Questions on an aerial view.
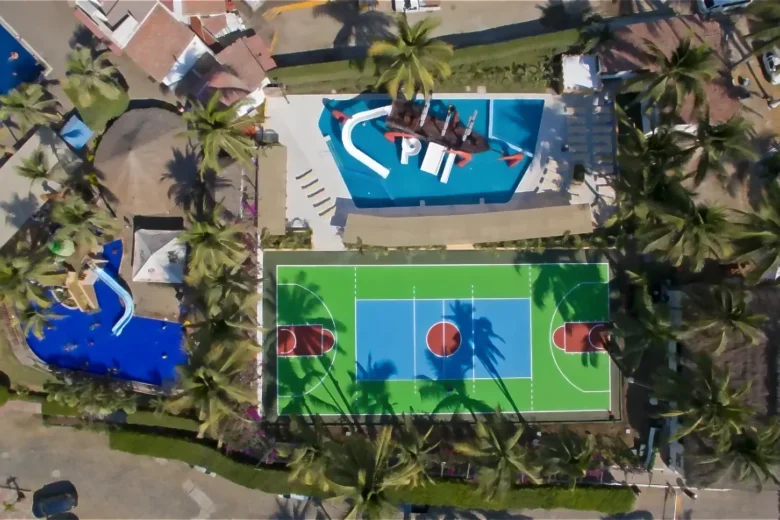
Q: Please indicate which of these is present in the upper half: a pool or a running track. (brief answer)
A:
pool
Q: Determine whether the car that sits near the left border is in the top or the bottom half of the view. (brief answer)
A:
bottom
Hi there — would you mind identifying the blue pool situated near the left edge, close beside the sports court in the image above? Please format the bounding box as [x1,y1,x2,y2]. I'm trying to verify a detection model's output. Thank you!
[21,235,189,388]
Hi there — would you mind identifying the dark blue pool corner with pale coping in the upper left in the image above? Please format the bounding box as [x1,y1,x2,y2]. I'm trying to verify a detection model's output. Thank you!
[0,24,53,116]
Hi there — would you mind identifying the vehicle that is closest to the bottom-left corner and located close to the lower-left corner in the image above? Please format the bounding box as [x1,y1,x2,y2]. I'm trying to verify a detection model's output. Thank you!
[30,487,81,518]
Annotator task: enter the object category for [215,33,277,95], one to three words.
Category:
house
